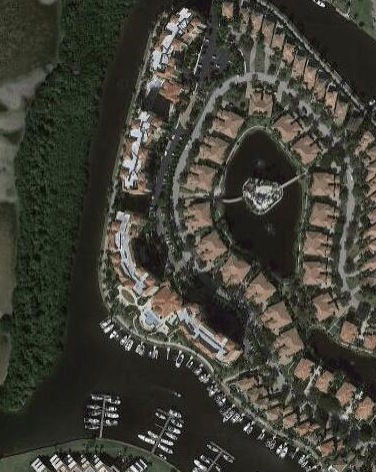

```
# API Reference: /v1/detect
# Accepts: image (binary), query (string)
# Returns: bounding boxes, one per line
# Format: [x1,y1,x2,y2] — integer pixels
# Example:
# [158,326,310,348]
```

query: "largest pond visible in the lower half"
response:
[137,236,246,349]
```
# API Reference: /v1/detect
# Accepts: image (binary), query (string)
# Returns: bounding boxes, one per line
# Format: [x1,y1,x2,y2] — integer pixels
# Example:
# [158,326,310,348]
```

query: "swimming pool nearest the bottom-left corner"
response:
[120,287,173,335]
